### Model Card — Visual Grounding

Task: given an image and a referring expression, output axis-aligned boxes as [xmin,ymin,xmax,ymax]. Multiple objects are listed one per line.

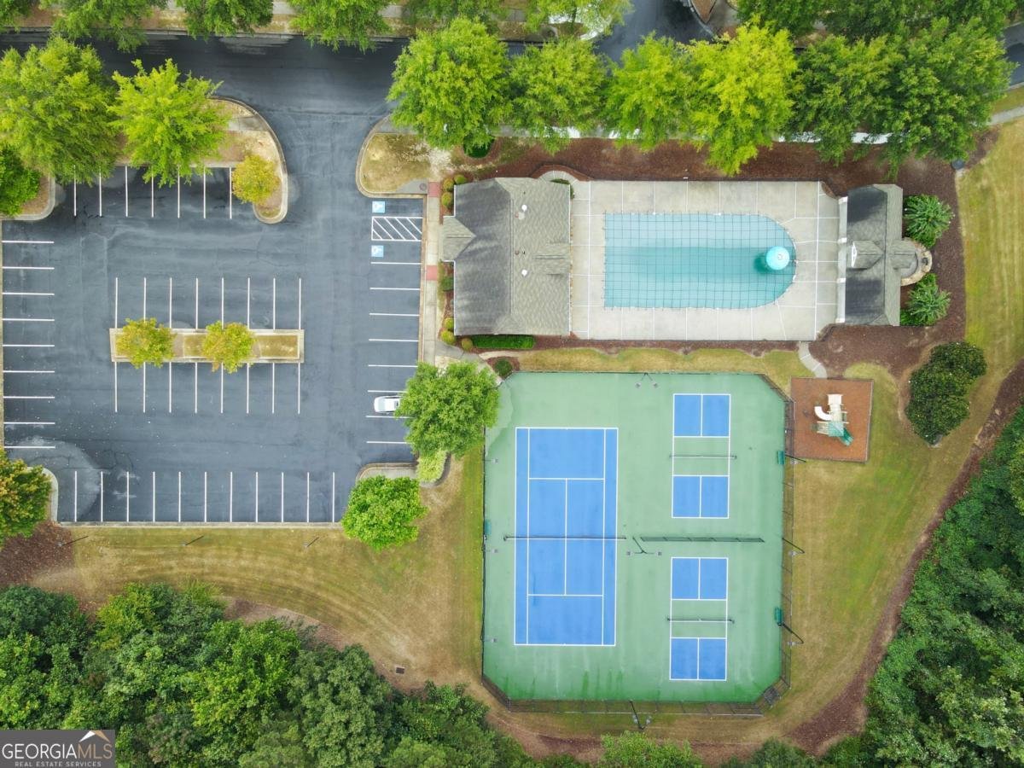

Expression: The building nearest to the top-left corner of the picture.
[441,177,571,336]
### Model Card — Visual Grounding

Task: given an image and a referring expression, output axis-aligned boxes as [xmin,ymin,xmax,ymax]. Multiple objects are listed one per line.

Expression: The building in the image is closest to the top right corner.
[835,185,919,326]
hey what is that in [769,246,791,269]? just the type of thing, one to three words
fountain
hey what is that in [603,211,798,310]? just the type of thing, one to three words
swimming pool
